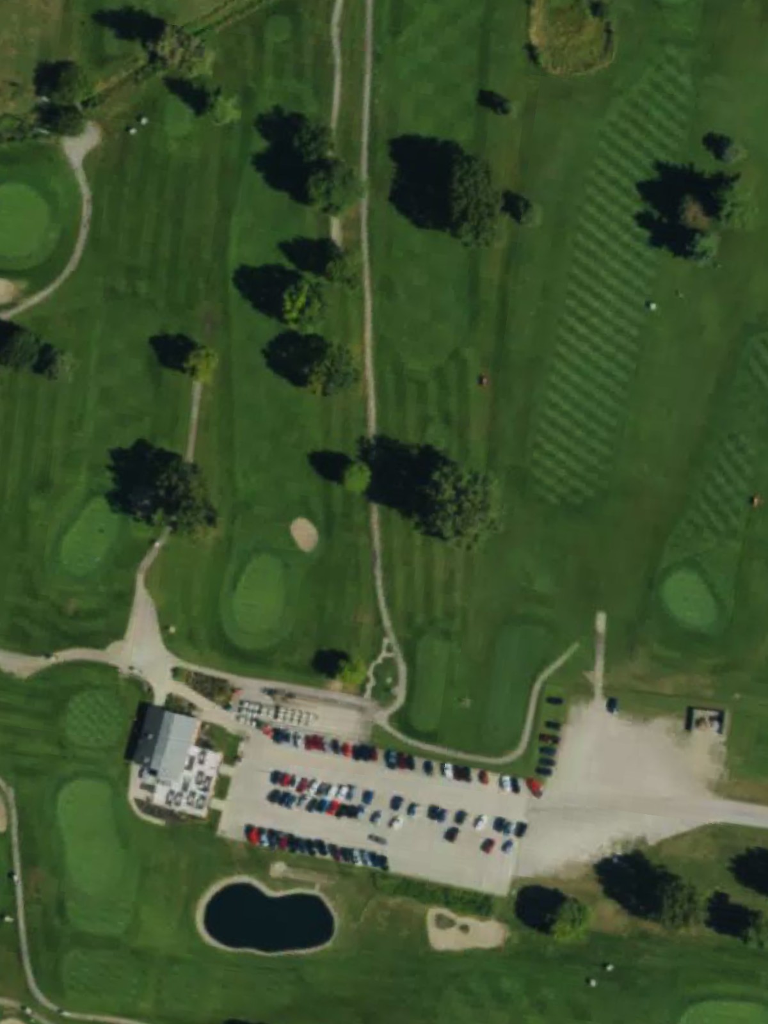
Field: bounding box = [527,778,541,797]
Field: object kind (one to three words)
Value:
vehicle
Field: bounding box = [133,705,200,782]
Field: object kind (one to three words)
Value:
building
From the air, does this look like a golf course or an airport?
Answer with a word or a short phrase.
golf course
